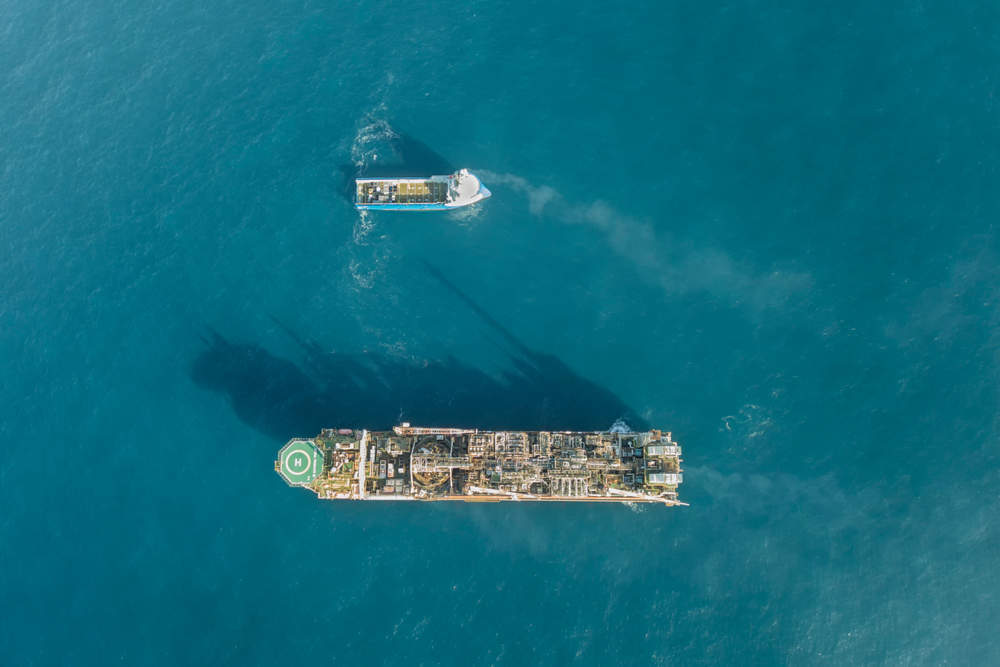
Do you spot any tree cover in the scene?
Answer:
No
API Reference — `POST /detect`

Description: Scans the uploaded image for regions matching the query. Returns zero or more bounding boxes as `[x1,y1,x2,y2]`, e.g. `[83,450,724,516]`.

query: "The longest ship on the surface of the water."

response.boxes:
[271,421,688,507]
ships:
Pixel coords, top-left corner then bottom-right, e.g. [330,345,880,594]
[271,421,688,507]
[358,168,491,210]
